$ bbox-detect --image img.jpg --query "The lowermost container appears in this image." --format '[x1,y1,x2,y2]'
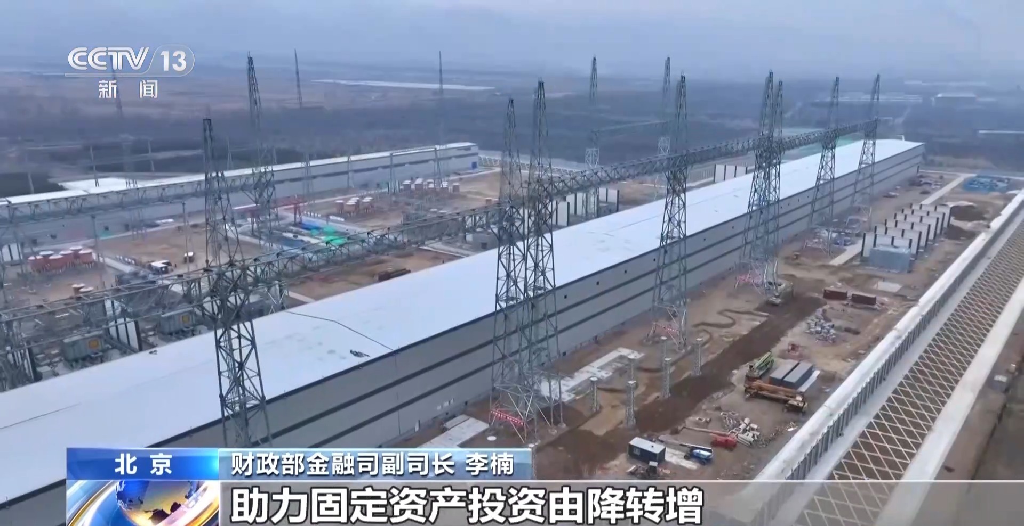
[629,437,665,466]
